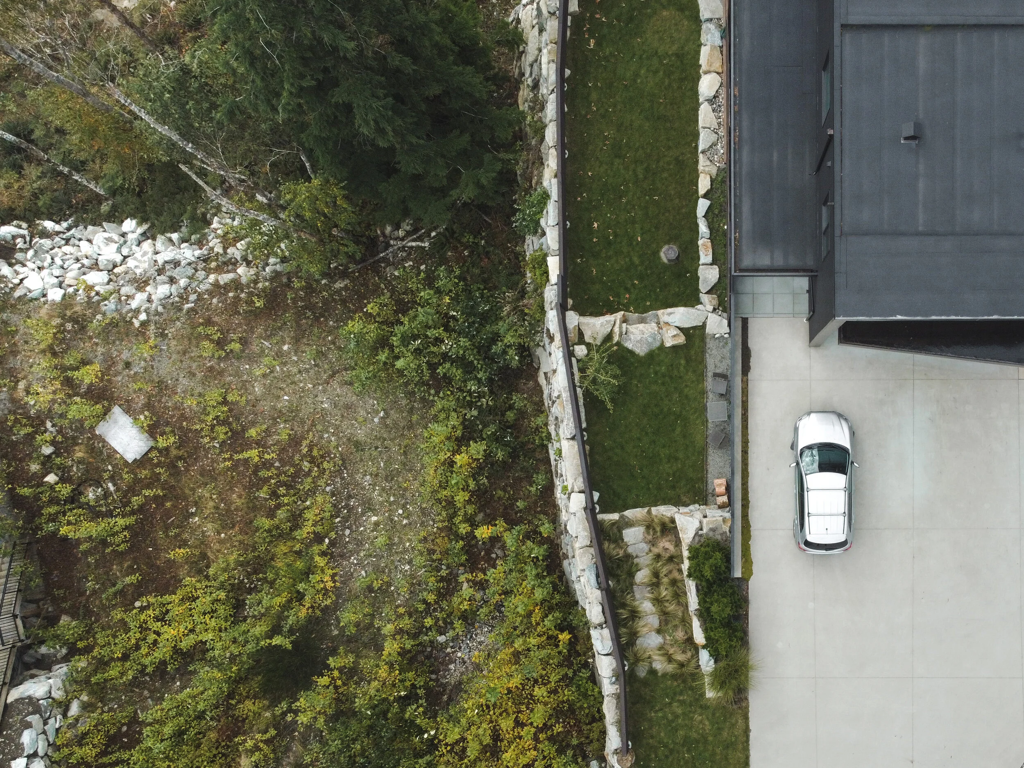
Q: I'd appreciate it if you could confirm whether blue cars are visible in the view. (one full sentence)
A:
No, I can see no blue car in this picture.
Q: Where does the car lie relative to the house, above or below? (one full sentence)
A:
In the image, the car appears below the house.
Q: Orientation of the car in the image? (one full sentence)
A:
What the image shows is the car lying vertically.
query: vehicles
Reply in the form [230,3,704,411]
[790,411,860,555]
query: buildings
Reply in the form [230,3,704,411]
[724,0,1024,366]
